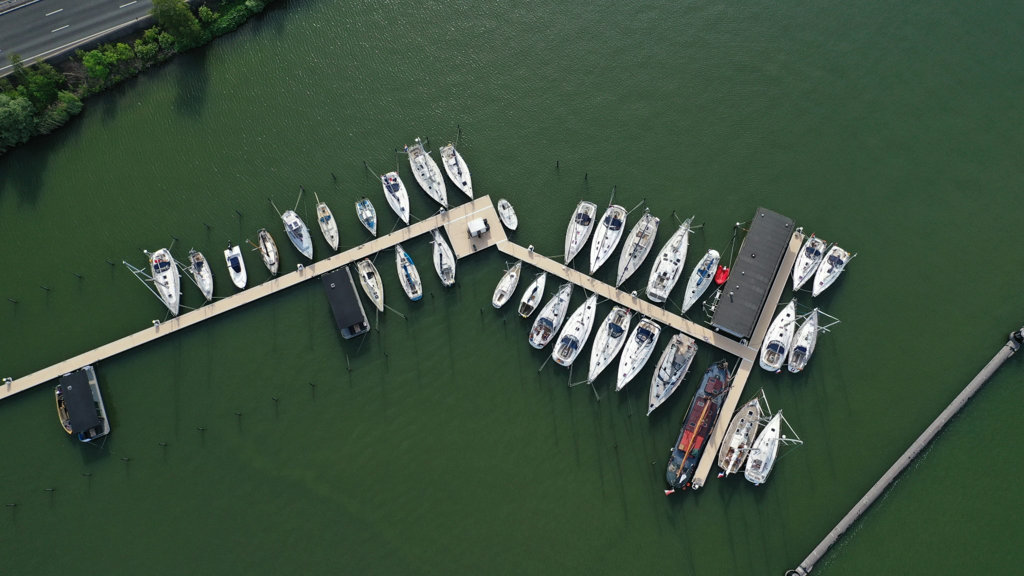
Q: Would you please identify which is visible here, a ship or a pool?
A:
ship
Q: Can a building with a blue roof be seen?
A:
No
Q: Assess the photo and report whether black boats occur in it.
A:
Yes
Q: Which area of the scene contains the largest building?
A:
right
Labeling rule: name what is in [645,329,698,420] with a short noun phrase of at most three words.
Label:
boat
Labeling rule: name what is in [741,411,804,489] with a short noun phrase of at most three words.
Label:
boat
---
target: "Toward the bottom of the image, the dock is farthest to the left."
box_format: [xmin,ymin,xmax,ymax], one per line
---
[692,358,752,486]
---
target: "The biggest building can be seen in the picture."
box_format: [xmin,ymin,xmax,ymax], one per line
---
[704,206,796,341]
